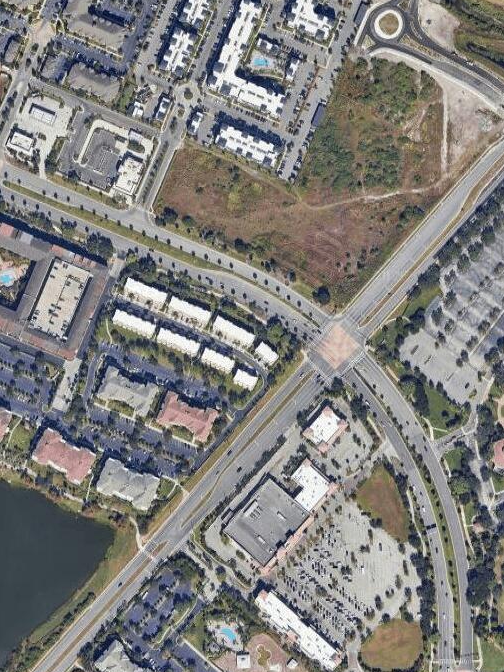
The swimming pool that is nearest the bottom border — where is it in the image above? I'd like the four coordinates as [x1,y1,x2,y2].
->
[208,622,245,651]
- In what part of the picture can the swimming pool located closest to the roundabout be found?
top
